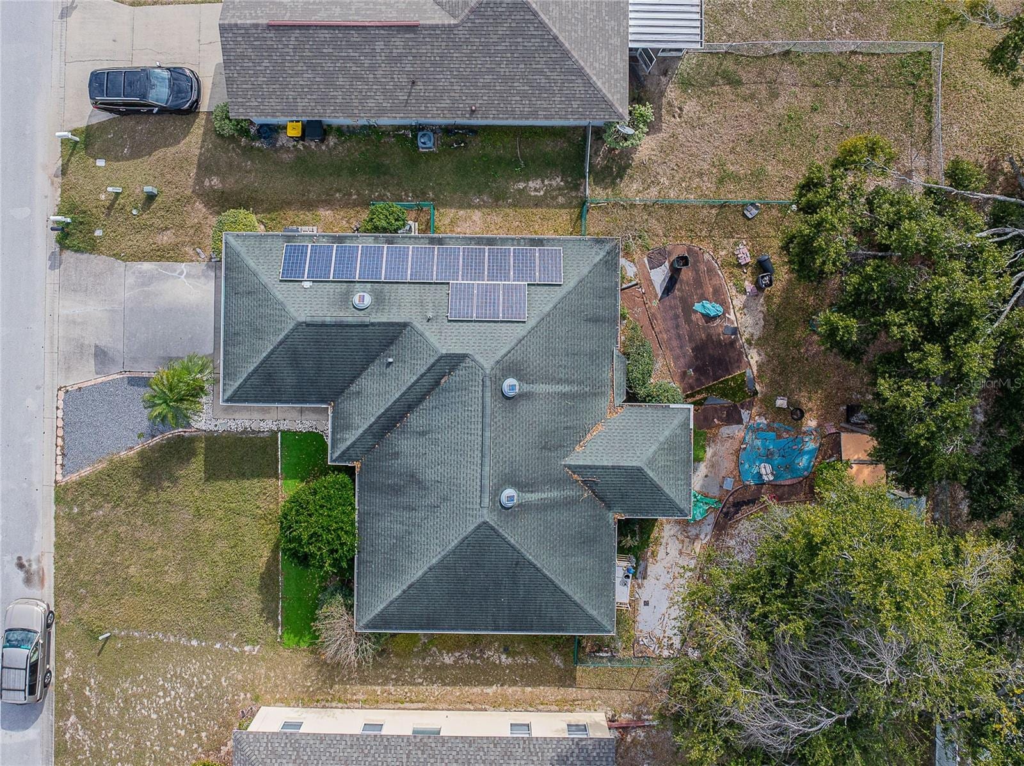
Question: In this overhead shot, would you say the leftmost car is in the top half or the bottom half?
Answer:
bottom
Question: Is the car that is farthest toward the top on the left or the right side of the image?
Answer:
left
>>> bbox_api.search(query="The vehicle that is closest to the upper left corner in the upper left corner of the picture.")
[88,59,203,118]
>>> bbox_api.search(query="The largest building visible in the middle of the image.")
[220,235,694,633]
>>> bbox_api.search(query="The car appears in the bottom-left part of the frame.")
[0,597,55,704]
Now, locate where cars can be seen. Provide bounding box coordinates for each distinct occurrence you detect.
[0,597,55,704]
[88,59,203,118]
